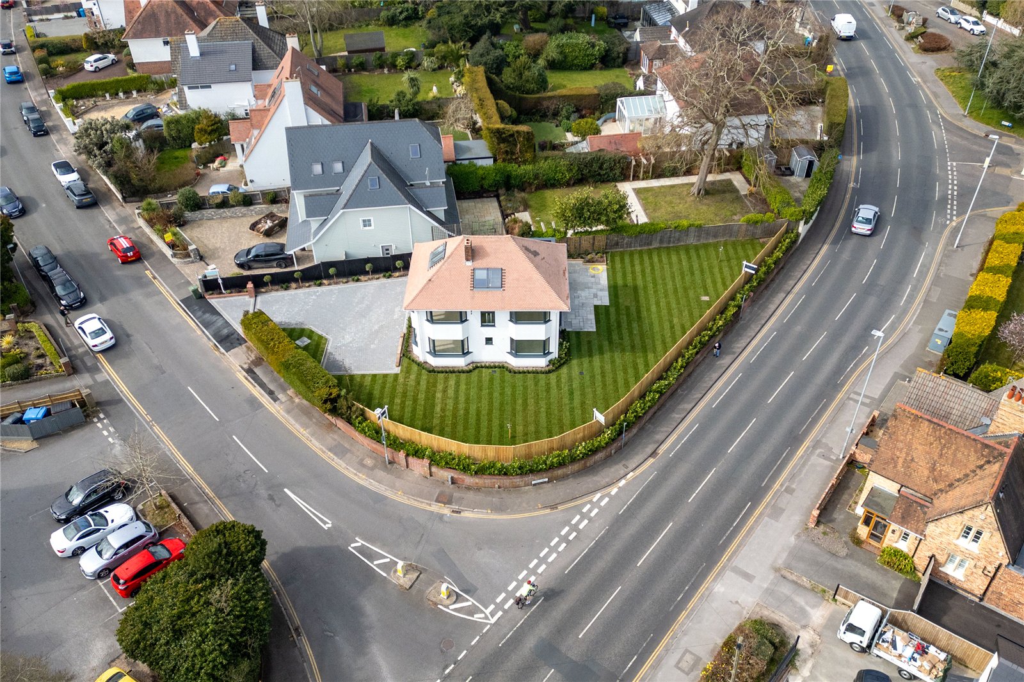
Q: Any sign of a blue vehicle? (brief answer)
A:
Yes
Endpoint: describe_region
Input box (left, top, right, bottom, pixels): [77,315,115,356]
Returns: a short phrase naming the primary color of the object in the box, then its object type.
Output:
white car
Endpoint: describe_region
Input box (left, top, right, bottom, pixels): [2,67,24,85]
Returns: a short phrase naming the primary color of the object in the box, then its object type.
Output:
blue car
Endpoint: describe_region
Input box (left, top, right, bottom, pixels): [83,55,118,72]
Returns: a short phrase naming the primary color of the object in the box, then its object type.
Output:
white car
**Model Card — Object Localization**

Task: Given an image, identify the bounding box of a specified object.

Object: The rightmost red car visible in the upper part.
[110,237,140,266]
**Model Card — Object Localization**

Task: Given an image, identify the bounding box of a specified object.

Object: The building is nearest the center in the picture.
[403,229,572,366]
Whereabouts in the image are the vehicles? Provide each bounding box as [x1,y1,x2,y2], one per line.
[199,181,247,202]
[0,183,27,218]
[122,101,162,122]
[110,237,140,266]
[233,242,294,268]
[50,159,81,187]
[79,520,161,583]
[26,113,51,138]
[17,96,39,123]
[47,266,88,309]
[27,239,63,279]
[47,503,139,566]
[931,7,958,24]
[48,468,136,529]
[851,206,880,238]
[83,55,118,72]
[0,39,16,56]
[2,67,24,85]
[831,16,857,44]
[0,0,13,12]
[77,315,115,356]
[954,14,985,35]
[847,602,947,682]
[64,181,96,209]
[106,539,192,602]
